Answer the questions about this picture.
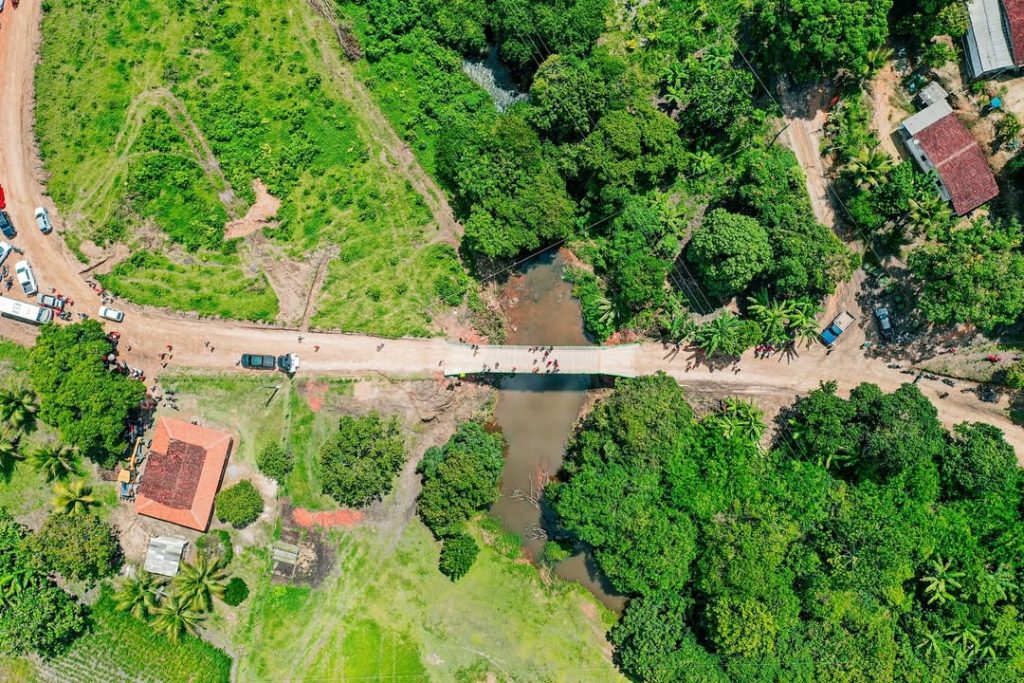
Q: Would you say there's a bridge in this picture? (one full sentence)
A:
Yes, the photo shows a bridge.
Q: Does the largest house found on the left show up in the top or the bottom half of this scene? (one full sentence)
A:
It is in the bottom half that the largest house found on the left appears.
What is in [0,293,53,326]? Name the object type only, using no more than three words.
bus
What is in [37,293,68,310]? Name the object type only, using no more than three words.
vehicle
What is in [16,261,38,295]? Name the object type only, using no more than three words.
truck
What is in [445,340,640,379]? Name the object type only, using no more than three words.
bridge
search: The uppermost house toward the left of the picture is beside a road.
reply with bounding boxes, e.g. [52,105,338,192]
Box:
[136,416,235,532]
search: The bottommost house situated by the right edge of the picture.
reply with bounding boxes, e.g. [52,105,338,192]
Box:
[896,100,999,215]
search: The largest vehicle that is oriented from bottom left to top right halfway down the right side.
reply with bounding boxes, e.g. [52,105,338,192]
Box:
[822,311,855,344]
